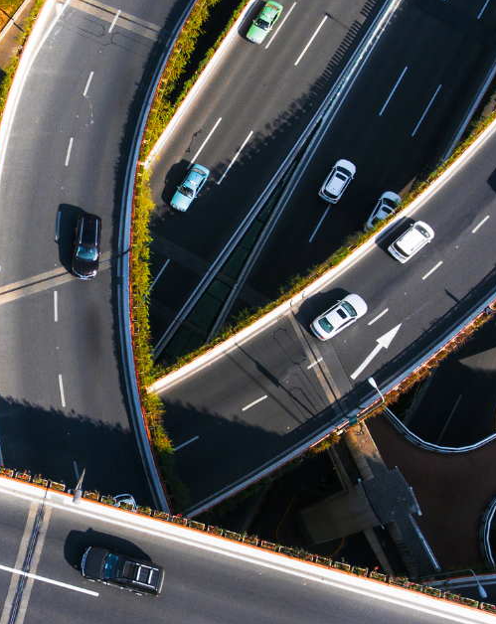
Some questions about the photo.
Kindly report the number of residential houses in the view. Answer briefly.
none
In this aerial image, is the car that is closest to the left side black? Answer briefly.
Yes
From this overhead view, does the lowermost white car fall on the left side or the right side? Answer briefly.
right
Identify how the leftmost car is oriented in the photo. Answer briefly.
from top to bottom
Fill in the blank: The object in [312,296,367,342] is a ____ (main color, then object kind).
white car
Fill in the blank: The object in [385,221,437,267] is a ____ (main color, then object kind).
white car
